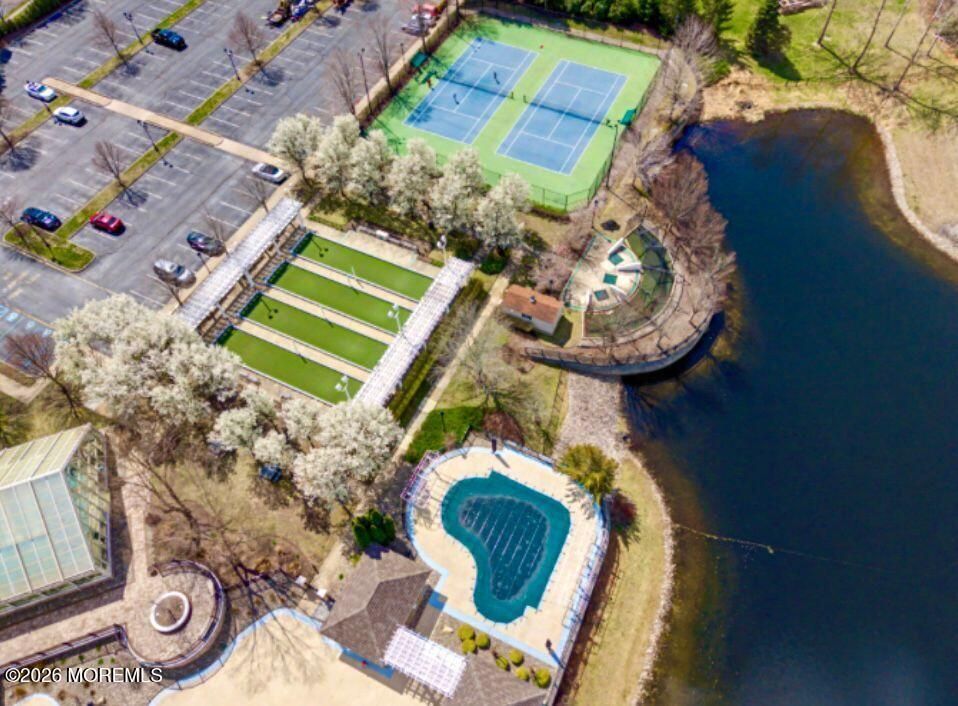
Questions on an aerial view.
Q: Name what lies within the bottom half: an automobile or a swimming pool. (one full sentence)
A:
The one visible within the bottom half is a swimming pool.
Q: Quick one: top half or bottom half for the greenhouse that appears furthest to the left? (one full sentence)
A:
The greenhouse that appears furthest to the left is in the bottom half of the image.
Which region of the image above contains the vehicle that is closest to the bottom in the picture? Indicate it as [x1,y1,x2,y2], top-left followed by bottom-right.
[152,259,196,287]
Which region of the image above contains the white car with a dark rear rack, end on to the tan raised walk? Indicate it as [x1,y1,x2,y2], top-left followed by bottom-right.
[21,80,57,102]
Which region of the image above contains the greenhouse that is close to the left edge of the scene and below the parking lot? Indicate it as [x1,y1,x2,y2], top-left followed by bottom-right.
[0,420,111,608]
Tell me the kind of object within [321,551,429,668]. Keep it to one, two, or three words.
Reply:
building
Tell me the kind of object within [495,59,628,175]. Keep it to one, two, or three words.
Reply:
tennis court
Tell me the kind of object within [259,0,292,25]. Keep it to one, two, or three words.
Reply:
truck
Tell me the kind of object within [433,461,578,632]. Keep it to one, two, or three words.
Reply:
swimming pool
